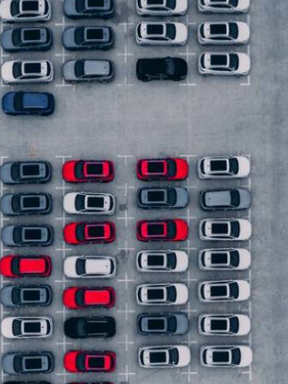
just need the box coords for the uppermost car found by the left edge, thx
[0,0,52,23]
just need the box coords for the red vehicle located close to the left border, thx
[0,253,52,280]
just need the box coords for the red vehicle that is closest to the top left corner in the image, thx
[62,158,115,183]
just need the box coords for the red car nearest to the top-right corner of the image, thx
[136,156,189,181]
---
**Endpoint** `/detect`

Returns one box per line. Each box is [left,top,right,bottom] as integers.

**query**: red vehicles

[136,217,189,242]
[63,286,116,311]
[62,158,115,183]
[64,350,117,375]
[63,220,116,245]
[136,156,189,181]
[0,253,52,280]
